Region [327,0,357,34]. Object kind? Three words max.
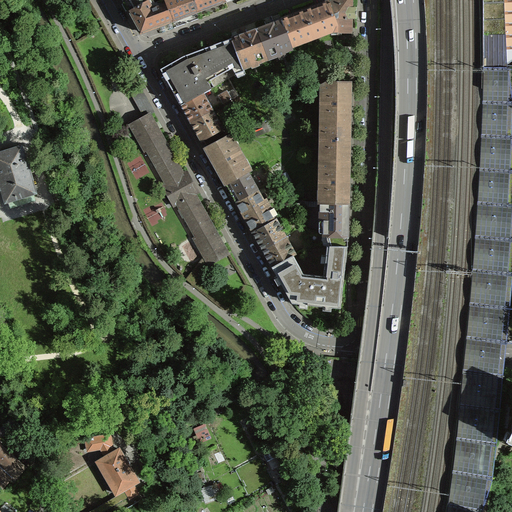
house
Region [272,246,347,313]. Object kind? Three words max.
building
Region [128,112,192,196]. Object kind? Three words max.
building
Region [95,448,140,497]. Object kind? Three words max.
house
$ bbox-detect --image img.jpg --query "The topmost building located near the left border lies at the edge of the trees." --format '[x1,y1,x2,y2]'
[0,146,36,208]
